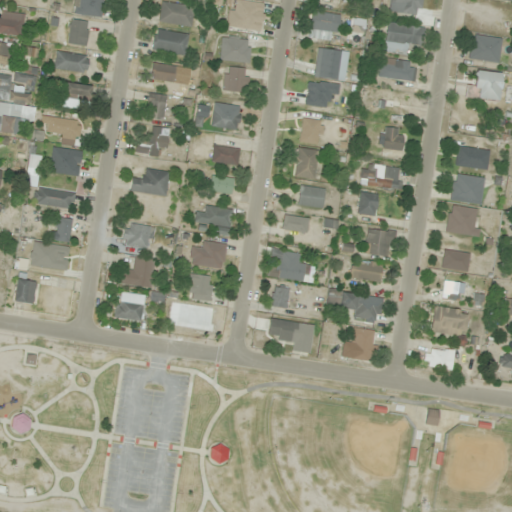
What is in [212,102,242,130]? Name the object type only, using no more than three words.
house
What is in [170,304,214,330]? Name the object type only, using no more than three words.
building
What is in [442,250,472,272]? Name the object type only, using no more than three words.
house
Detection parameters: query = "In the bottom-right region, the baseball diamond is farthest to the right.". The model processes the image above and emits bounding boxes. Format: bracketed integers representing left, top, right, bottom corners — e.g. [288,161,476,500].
[432,424,512,512]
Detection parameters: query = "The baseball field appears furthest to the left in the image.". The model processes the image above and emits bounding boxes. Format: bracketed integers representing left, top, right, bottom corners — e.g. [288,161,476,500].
[257,396,416,512]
